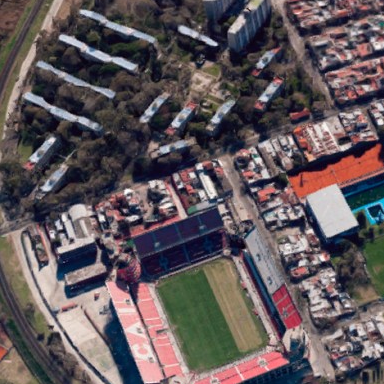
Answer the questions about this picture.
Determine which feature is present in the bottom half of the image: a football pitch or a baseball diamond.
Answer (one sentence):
Looking in the bottom half of the image, you will find a football pitch.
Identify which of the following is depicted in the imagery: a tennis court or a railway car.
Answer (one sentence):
It is a tennis court that can be seen here.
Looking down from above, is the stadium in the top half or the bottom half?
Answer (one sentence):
Seen from above, the stadium lies in the bottom half of the view.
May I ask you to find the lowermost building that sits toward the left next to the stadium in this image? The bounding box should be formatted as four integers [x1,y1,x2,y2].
[65,262,108,289]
